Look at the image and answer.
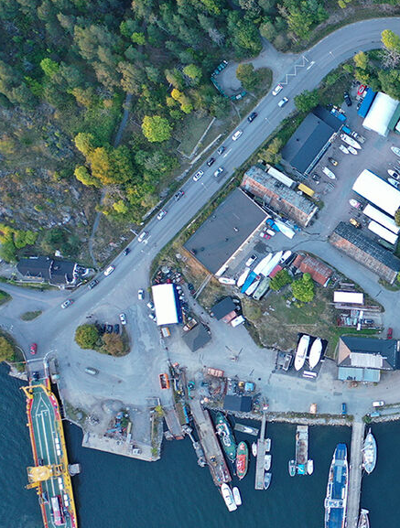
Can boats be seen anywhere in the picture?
Yes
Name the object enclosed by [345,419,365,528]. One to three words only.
pier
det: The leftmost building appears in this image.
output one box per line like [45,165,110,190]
[16,256,59,295]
